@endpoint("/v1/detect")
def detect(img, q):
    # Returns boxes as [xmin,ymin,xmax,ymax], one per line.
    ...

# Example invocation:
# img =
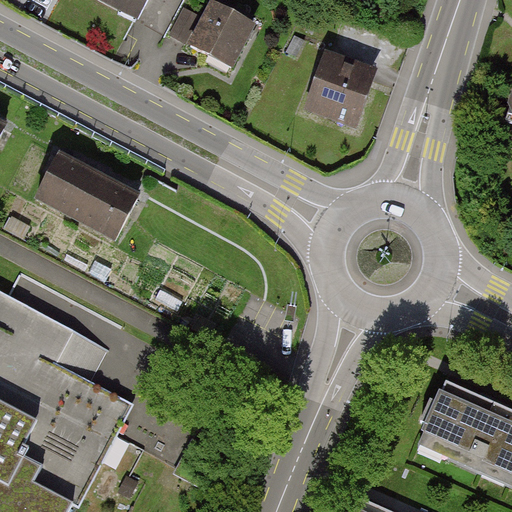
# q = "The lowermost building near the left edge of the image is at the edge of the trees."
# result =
[0,290,133,512]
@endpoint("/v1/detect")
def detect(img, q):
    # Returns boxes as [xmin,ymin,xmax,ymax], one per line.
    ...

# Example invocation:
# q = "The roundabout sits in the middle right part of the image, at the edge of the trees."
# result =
[310,183,460,331]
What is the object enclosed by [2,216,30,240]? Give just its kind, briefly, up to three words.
shed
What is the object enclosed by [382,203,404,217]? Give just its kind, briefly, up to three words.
vehicle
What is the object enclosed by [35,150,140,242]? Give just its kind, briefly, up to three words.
building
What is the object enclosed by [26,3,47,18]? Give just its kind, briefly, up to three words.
car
